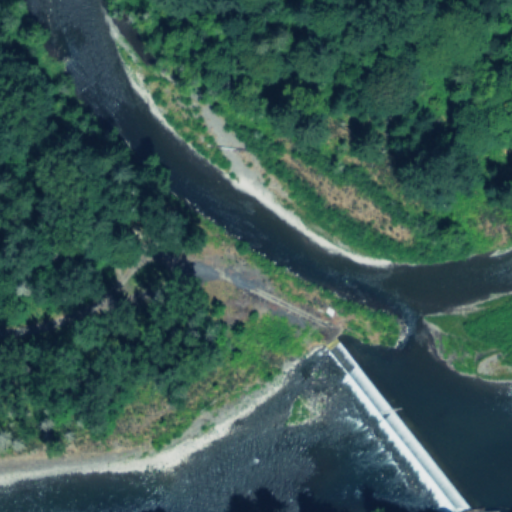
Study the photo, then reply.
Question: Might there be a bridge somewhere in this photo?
No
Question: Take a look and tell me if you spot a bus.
No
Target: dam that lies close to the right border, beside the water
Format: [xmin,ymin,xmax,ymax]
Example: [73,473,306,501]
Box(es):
[326,338,501,512]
